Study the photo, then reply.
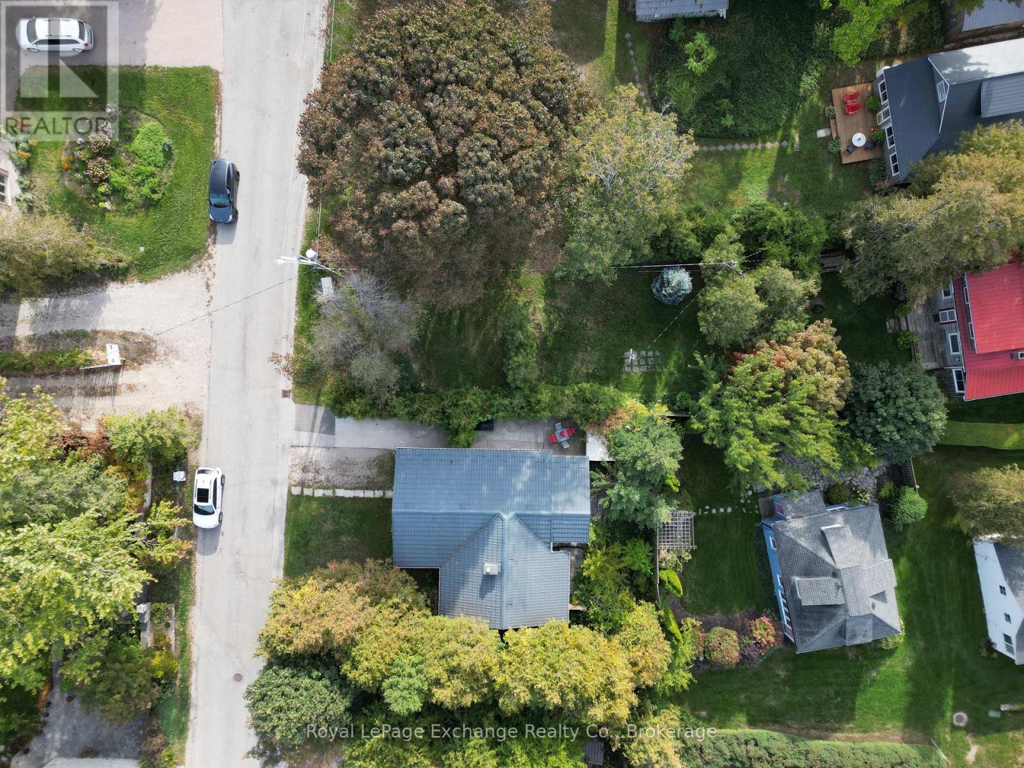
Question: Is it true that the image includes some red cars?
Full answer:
No, this view has no red car in it.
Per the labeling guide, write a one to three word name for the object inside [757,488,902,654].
house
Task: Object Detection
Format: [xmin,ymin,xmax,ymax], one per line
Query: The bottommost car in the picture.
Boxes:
[189,467,225,530]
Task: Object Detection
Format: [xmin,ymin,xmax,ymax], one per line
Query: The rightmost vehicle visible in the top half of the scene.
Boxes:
[203,157,239,224]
